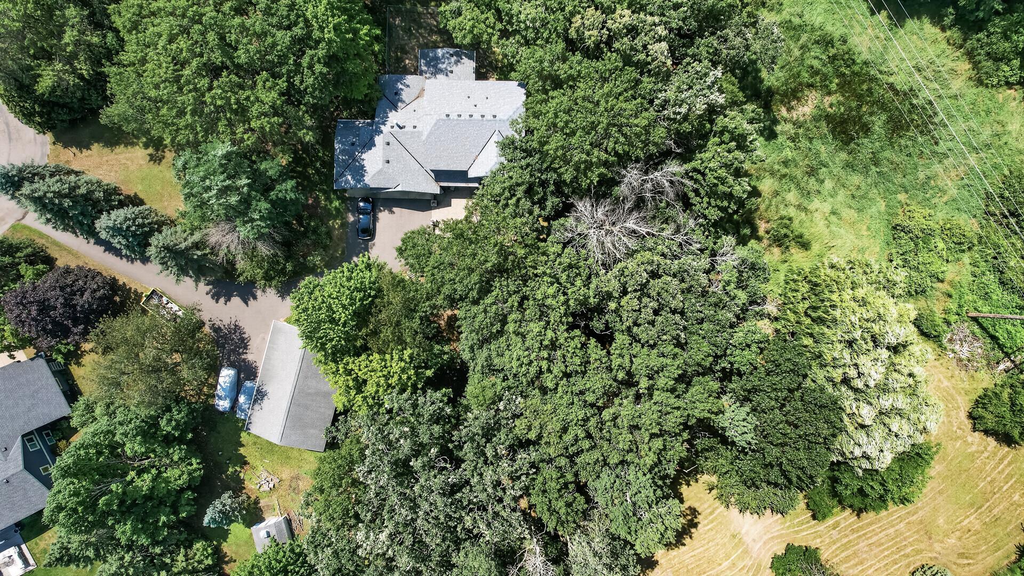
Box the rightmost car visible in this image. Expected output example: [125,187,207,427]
[355,199,375,239]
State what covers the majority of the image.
trees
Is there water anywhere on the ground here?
No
